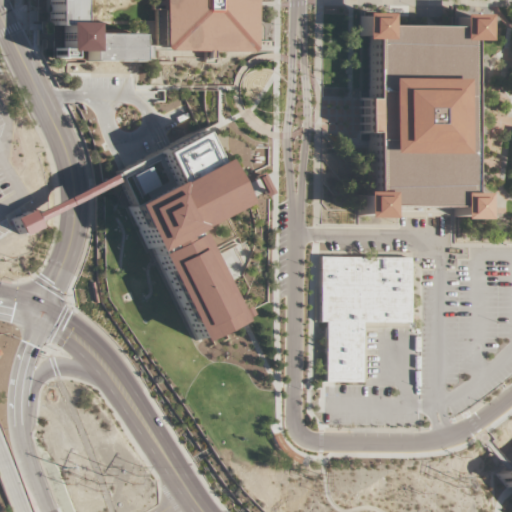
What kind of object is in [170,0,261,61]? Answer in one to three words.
building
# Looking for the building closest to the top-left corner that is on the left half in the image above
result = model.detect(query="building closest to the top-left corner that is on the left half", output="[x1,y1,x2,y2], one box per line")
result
[52,0,152,62]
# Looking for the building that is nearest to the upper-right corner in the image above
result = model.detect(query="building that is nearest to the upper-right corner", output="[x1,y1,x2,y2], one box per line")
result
[358,14,498,219]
